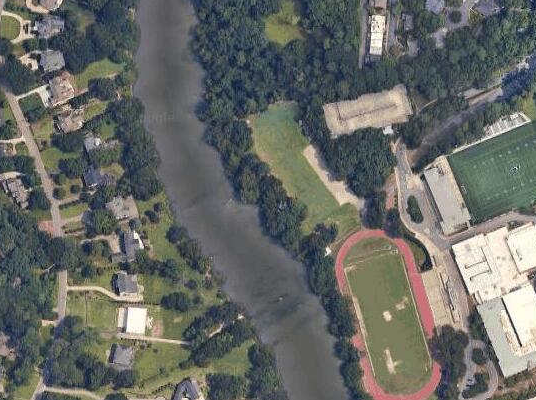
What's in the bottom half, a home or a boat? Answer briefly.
home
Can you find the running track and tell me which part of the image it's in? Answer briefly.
bottom right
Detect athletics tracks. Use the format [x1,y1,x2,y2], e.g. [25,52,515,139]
[337,228,442,400]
